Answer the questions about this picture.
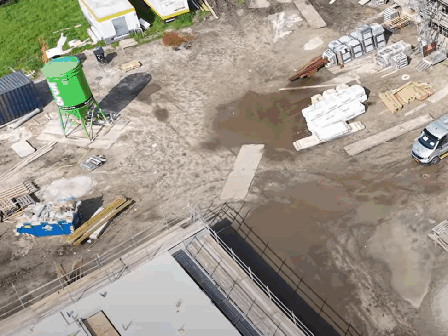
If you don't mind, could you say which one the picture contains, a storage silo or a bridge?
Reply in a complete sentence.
Visible in the photo is a storage silo.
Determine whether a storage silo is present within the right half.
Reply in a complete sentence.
No, no storage silo can be made out within the right half.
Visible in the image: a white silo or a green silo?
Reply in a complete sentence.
The image shows a green silo.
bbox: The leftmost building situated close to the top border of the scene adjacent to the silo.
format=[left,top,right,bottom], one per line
[63,0,142,47]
